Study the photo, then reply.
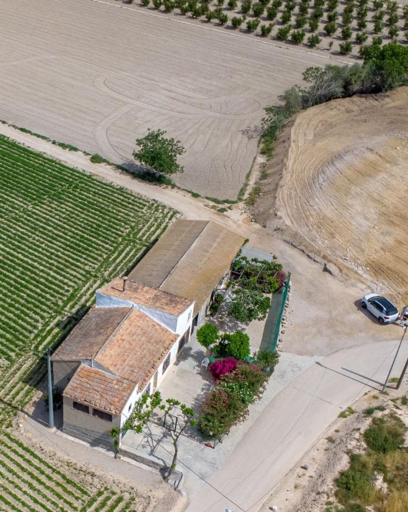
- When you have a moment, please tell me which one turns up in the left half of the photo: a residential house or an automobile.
residential house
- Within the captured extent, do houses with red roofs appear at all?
No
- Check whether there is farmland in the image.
Yes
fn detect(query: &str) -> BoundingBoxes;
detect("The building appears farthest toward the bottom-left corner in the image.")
[46,275,198,457]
